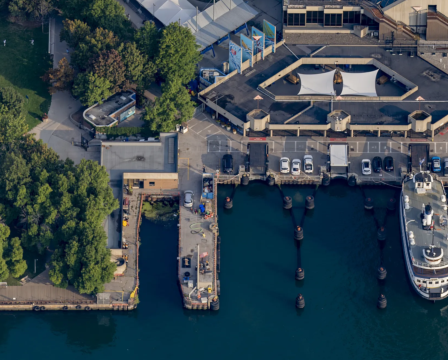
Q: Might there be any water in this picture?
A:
Yes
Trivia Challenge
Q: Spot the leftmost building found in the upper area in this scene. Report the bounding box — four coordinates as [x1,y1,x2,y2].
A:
[83,89,135,138]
